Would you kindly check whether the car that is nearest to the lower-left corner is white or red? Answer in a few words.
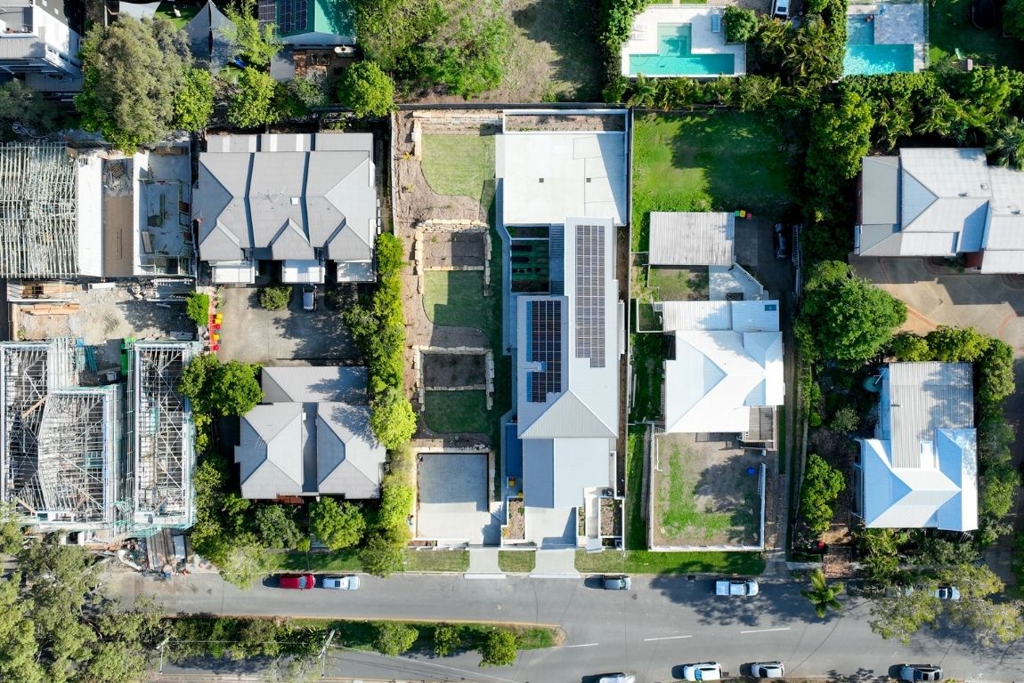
red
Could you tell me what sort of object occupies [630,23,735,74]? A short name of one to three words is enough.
swimming pool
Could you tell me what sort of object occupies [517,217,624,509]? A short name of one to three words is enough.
house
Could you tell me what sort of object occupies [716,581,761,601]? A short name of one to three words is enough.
vehicle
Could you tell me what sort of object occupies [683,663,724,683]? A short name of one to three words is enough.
car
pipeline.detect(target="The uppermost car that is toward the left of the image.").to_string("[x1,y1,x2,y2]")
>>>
[298,284,316,313]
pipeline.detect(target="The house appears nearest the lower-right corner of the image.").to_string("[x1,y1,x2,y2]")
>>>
[847,361,979,540]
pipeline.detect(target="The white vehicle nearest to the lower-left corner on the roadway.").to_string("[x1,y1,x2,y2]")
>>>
[321,575,359,595]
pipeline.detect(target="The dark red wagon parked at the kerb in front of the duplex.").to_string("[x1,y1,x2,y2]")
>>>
[276,574,314,594]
